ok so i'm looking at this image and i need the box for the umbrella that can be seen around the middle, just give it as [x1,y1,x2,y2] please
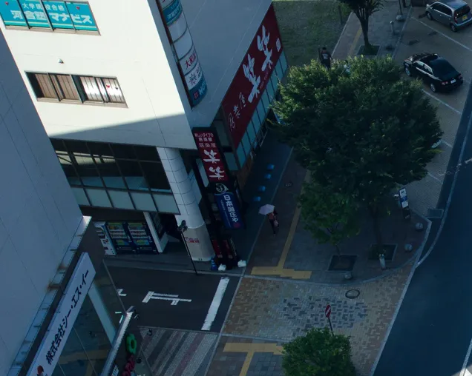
[256,201,275,214]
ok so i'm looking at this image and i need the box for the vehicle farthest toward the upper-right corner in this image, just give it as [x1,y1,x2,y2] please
[416,0,470,35]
